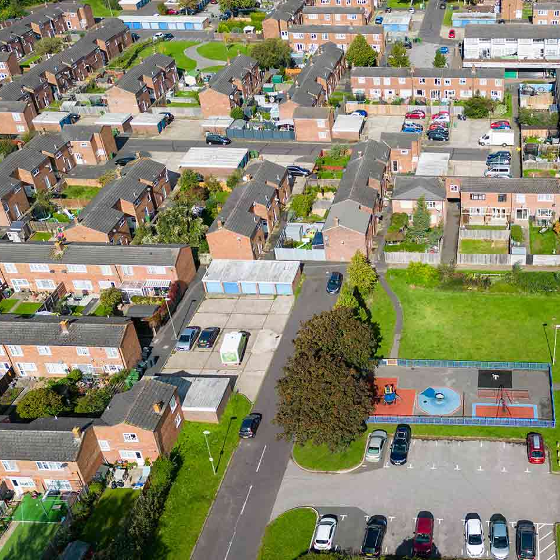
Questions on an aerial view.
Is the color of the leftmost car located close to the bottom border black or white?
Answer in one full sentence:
From above, the leftmost car located close to the bottom border appears white.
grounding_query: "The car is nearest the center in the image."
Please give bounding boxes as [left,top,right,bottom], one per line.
[325,270,344,295]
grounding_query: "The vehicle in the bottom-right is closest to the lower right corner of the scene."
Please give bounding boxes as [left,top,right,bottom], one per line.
[515,519,538,560]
